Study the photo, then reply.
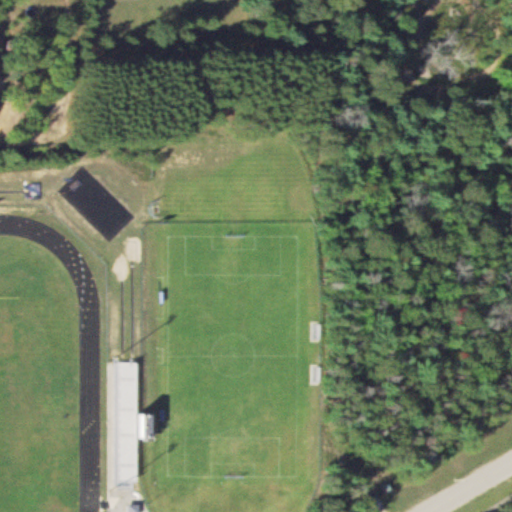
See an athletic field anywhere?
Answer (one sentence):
Yes, I can see an athletic field in this picture.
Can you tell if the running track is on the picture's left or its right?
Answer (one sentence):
The running track is on the left side of the image.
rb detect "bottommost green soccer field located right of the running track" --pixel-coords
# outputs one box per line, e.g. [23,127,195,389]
[150,224,318,512]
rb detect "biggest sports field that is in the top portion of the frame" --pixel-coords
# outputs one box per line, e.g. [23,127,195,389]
[161,140,313,218]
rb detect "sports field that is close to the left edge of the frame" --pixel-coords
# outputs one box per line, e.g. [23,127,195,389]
[0,236,80,512]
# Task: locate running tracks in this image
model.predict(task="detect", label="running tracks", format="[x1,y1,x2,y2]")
[0,216,100,512]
